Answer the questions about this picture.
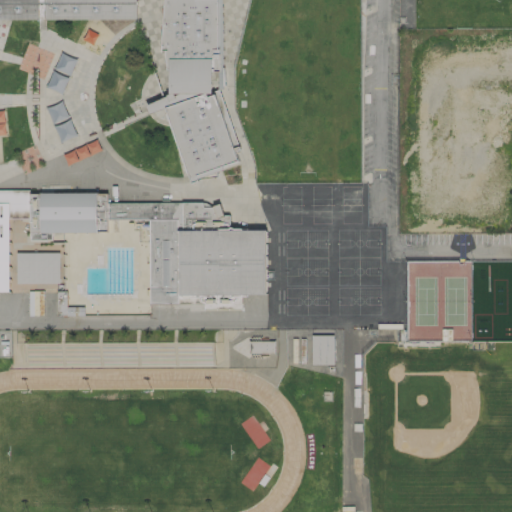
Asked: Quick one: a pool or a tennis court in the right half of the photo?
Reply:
tennis court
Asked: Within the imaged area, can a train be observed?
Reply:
No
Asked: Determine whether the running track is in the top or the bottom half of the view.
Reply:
bottom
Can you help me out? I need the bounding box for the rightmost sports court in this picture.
[474,262,512,342]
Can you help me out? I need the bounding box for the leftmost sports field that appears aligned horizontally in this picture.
[0,390,284,512]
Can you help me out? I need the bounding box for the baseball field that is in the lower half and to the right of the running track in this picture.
[364,344,512,512]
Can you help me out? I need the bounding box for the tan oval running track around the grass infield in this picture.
[0,369,306,512]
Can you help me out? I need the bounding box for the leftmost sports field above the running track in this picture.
[236,0,362,183]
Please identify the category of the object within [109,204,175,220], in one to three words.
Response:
building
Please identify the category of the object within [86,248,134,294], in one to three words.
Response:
swimming pool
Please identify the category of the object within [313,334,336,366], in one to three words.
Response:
shed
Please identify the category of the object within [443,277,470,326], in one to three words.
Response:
tennis court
